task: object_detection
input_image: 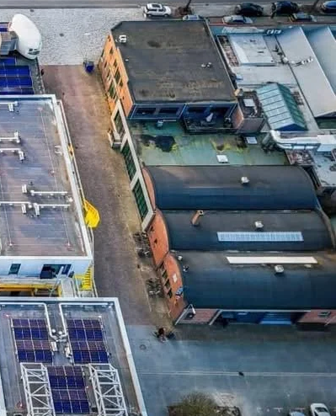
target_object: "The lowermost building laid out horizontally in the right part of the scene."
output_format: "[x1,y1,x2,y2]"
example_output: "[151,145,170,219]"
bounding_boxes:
[153,249,336,333]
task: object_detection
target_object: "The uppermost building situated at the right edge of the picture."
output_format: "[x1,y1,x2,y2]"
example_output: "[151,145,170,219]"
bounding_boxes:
[208,16,336,143]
